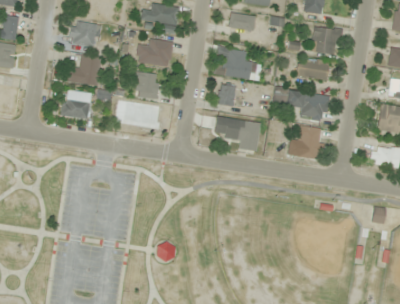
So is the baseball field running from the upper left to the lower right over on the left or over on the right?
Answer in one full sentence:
It is on the right.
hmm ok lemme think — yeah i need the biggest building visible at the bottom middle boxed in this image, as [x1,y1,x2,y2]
[154,240,176,263]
